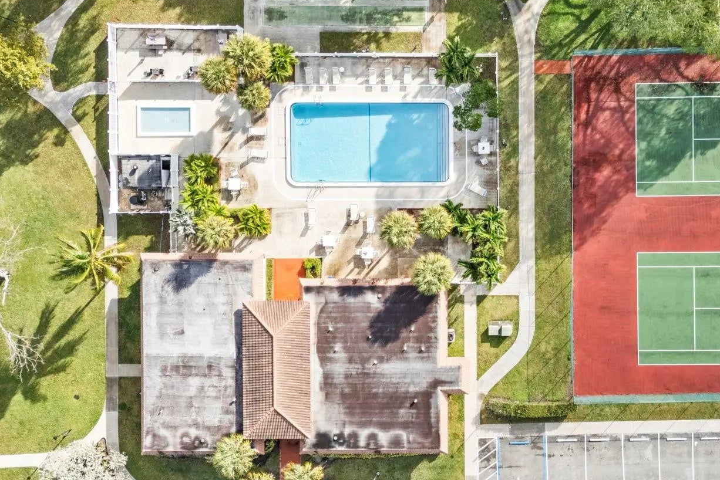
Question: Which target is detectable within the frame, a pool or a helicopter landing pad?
pool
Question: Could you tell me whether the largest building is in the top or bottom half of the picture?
bottom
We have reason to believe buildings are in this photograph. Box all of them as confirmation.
[122,157,161,187]
[140,252,470,455]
